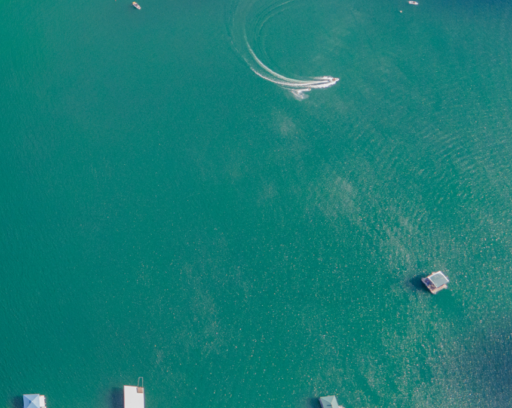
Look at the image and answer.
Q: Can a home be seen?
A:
No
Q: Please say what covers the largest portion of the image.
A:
water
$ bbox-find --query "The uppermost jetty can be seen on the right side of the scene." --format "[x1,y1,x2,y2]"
[419,272,449,296]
